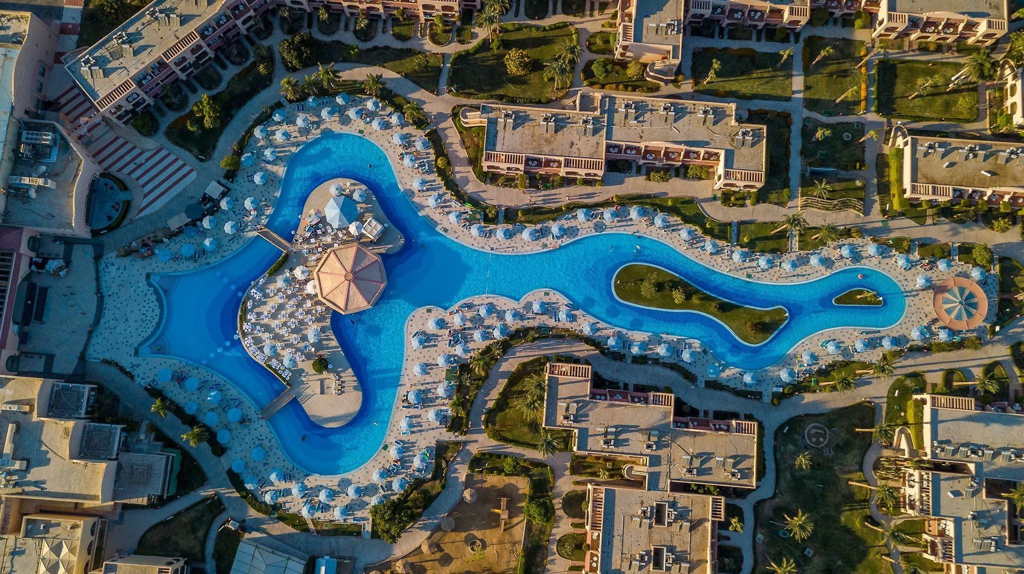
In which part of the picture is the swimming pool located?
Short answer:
center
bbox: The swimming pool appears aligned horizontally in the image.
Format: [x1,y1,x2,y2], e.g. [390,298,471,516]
[136,129,909,479]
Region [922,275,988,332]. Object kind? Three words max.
gazebo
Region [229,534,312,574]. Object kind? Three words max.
tent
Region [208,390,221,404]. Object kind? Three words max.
umbrella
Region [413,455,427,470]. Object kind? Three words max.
umbrella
